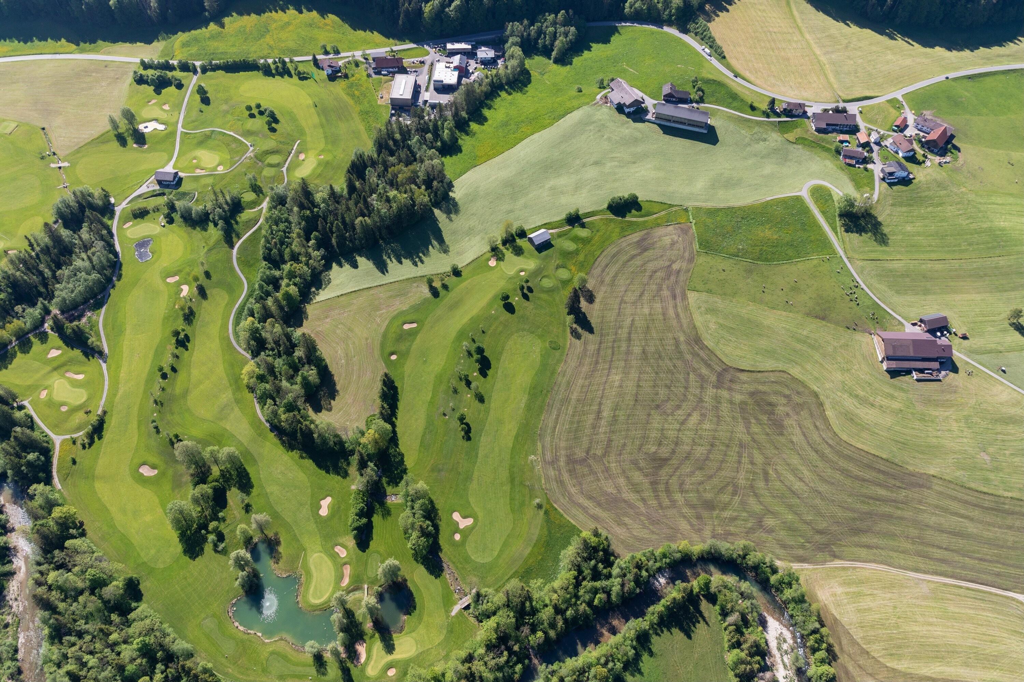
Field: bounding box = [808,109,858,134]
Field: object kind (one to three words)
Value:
house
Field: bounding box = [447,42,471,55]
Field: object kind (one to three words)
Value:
building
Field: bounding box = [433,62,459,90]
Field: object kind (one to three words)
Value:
building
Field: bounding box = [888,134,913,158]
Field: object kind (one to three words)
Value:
house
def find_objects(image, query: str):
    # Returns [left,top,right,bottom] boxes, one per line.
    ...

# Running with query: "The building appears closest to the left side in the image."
[154,169,179,185]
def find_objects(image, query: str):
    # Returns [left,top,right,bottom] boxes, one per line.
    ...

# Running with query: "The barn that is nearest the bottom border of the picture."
[874,331,953,373]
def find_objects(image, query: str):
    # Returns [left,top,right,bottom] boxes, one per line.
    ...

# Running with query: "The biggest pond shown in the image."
[231,542,337,647]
